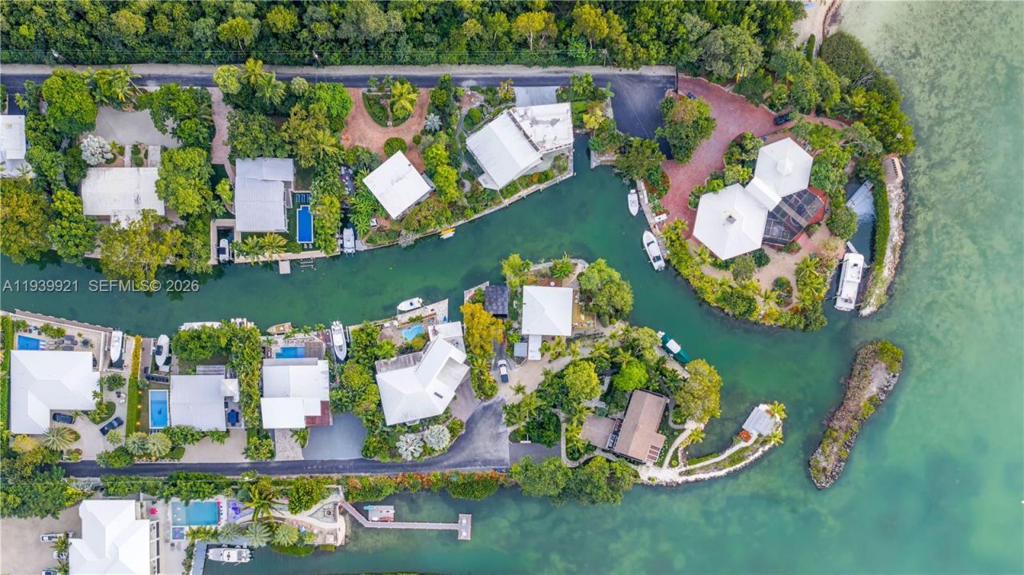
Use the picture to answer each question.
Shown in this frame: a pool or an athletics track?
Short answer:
pool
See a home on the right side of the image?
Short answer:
Yes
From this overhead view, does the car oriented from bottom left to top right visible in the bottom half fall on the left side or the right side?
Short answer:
left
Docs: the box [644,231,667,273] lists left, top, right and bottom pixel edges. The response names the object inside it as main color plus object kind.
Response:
white boat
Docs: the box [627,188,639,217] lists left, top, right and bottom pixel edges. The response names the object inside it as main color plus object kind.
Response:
white boat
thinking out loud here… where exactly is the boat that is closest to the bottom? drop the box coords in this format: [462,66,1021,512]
[206,547,251,564]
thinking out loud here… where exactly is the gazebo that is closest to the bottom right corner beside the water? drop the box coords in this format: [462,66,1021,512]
[739,406,775,436]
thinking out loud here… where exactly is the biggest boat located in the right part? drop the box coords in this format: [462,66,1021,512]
[836,252,867,313]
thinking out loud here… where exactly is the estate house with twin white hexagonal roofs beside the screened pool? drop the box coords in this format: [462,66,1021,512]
[690,137,813,260]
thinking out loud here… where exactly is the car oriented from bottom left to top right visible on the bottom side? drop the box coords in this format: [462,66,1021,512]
[96,416,124,438]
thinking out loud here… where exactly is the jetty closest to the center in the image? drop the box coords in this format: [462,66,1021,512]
[397,299,448,325]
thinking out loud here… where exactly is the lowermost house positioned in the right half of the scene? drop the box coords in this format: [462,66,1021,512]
[582,388,669,464]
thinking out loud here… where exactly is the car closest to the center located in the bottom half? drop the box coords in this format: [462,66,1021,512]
[497,359,511,384]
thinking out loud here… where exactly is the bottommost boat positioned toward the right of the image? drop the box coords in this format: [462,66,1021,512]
[660,333,689,361]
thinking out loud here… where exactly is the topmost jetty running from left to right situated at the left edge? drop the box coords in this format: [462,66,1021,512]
[13,309,110,332]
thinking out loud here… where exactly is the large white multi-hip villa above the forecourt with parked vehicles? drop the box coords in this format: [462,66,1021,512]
[68,495,172,575]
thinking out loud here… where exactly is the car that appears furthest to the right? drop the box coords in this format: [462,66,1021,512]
[773,109,795,125]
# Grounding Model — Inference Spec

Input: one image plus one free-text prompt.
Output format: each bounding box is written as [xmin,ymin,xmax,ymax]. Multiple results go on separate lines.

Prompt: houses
[521,285,573,360]
[364,150,436,221]
[690,137,813,260]
[466,102,573,189]
[0,115,34,177]
[233,157,299,233]
[376,322,469,425]
[10,350,107,434]
[79,168,168,225]
[261,357,333,428]
[168,364,232,430]
[68,495,172,575]
[582,388,669,464]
